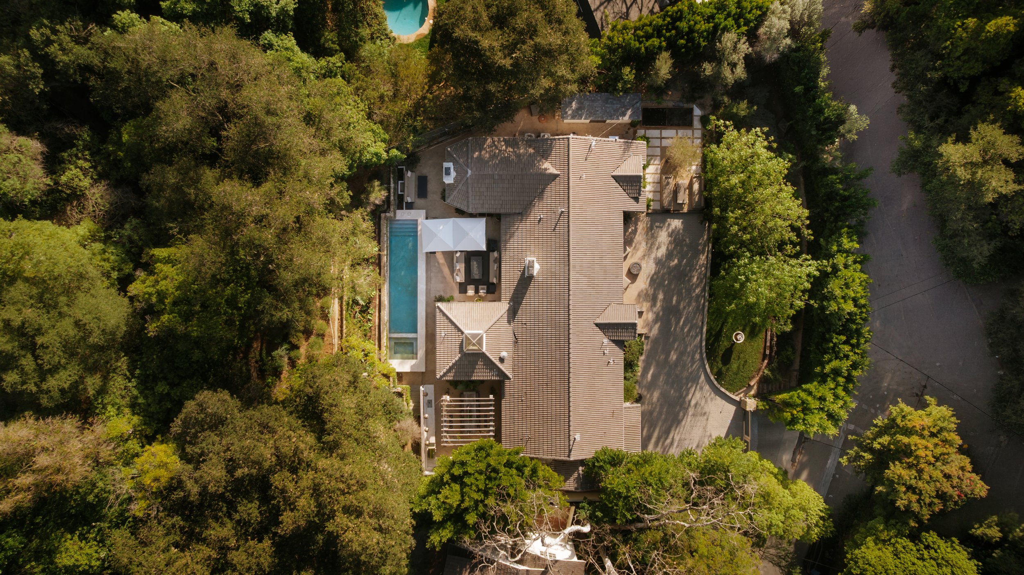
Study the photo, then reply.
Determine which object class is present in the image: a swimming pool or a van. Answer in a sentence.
This aerial view contains a swimming pool.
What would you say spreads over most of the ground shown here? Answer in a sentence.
Most of the picture is covered by trees.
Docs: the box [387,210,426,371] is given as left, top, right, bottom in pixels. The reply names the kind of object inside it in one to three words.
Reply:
swimming pool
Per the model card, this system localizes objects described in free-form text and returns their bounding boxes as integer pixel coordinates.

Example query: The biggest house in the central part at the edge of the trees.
[435,135,648,492]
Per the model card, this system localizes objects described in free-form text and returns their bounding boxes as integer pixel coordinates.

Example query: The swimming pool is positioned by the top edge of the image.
[376,0,435,43]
